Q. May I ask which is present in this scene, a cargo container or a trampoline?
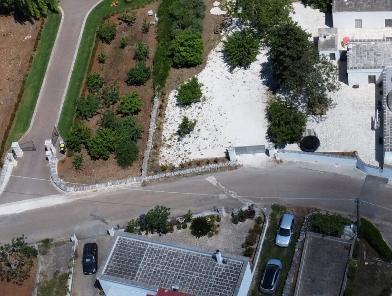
trampoline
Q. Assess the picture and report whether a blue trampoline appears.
No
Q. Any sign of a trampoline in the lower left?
No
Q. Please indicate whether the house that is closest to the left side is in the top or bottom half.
bottom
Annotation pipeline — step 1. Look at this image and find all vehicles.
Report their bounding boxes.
[260,260,283,295]
[276,213,296,248]
[81,241,100,276]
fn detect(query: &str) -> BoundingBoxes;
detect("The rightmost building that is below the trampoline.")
[292,234,350,296]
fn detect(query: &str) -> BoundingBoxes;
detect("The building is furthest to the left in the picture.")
[99,233,248,296]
